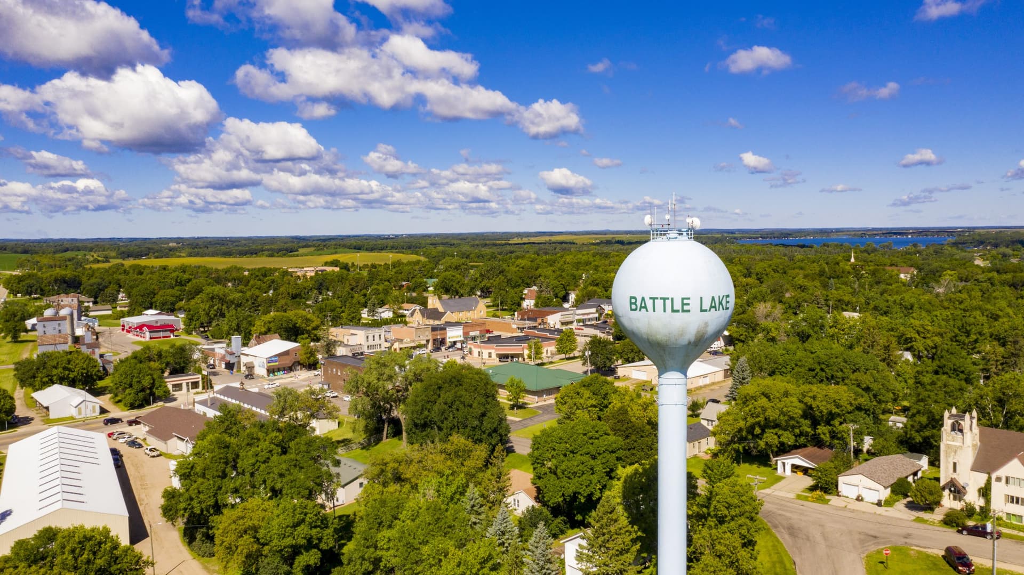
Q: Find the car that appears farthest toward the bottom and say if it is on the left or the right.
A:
right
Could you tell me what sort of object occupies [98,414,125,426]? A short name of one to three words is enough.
vehicle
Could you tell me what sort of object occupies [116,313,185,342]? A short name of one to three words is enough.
building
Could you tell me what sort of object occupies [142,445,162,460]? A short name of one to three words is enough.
vehicle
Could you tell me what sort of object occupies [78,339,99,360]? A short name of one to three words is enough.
shed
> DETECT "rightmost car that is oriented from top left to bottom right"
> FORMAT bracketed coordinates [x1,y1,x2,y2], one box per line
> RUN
[937,543,984,575]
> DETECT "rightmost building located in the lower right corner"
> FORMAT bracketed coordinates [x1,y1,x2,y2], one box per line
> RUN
[931,421,1024,542]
